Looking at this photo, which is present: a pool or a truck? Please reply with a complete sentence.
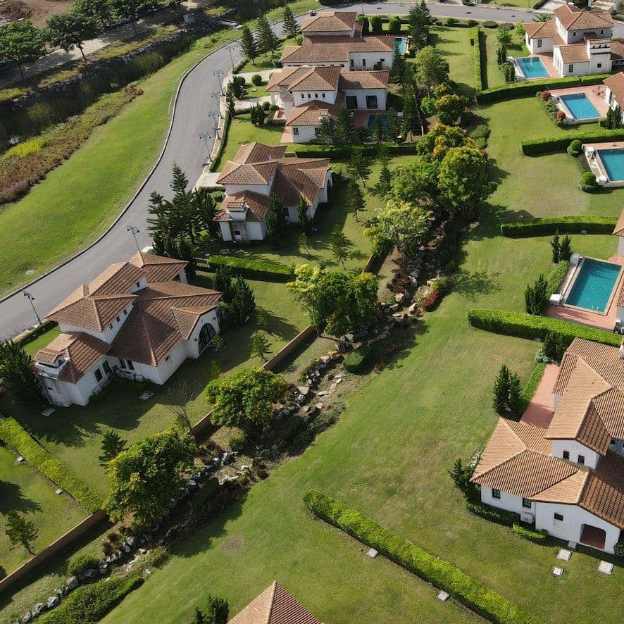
Visible in the photo is a pool.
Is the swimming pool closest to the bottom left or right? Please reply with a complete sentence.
The swimming pool closest to the bottom appears in the right half of the scene.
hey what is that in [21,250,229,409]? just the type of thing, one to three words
house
